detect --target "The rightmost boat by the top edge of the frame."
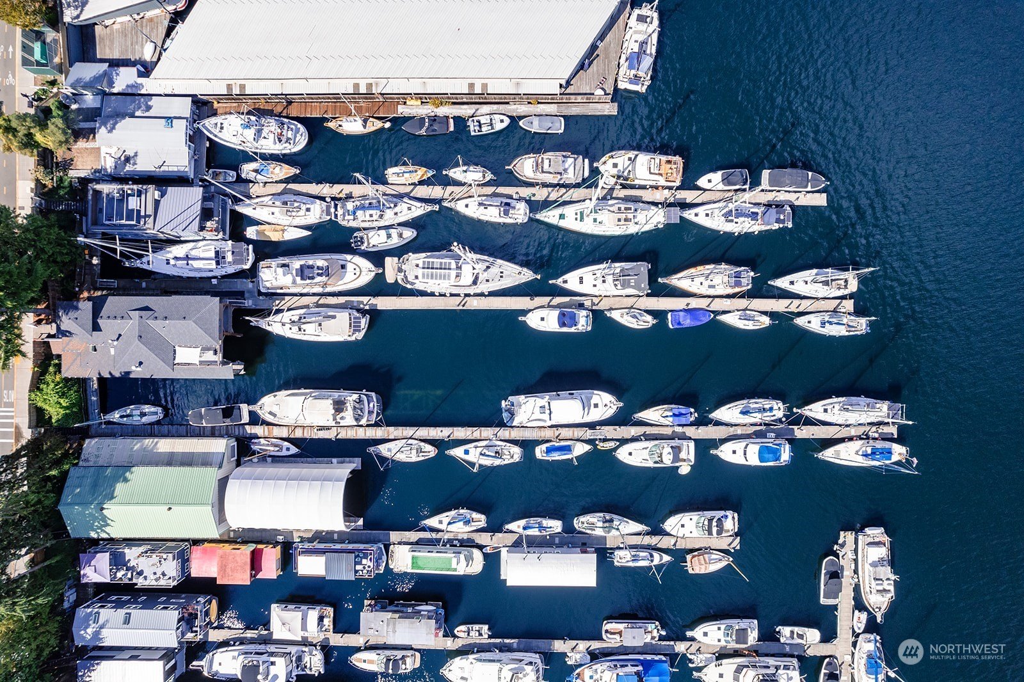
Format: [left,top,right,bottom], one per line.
[616,0,666,93]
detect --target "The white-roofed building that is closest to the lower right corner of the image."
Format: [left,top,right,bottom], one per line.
[500,544,597,587]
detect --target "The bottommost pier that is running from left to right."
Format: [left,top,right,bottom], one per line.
[212,628,840,658]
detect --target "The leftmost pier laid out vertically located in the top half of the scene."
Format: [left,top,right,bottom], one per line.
[90,238,104,296]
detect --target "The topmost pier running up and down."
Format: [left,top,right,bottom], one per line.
[191,97,210,186]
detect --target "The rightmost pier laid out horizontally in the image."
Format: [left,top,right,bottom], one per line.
[588,425,897,442]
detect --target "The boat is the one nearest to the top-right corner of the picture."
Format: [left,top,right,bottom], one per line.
[760,169,830,193]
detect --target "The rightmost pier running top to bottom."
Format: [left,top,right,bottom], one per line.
[833,529,860,682]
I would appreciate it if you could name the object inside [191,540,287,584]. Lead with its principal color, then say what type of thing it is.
pink boat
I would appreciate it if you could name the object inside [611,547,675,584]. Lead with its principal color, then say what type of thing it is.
white boat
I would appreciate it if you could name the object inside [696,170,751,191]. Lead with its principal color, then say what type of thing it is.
white boat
